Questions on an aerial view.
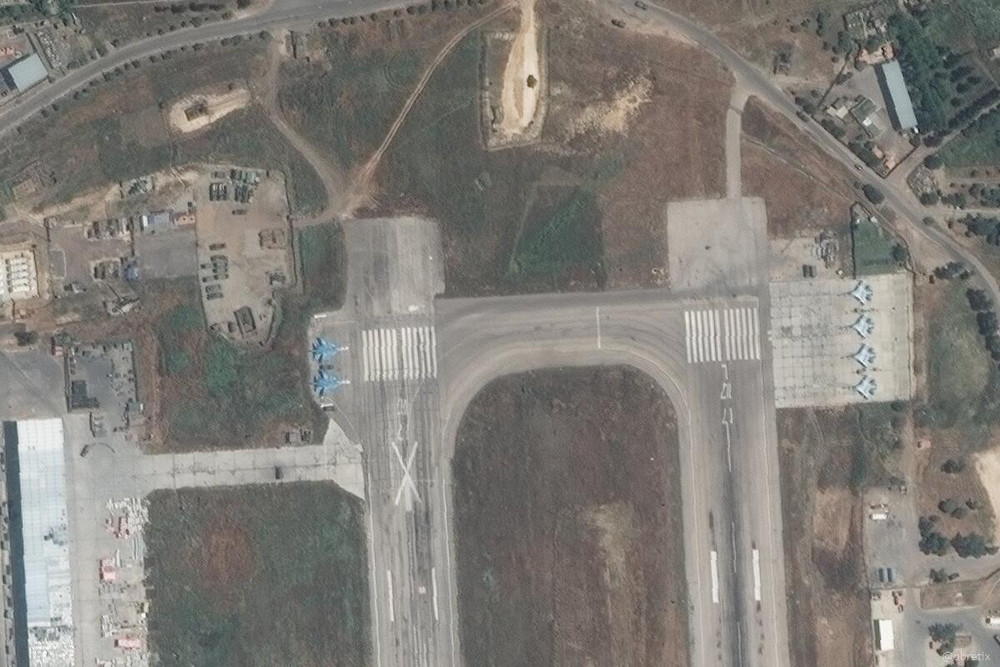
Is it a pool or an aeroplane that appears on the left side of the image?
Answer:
aeroplane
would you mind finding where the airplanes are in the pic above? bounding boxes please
[842,315,874,338]
[841,281,874,305]
[844,376,877,398]
[312,371,350,396]
[311,337,348,362]
[843,344,876,367]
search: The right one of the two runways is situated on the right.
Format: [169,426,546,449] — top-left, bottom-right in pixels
[667,197,789,667]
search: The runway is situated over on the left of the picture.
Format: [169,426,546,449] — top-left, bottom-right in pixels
[309,217,461,667]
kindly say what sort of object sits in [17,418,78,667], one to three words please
hangar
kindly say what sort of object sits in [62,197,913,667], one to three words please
airport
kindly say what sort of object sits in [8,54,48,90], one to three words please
building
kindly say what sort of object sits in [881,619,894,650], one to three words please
shed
